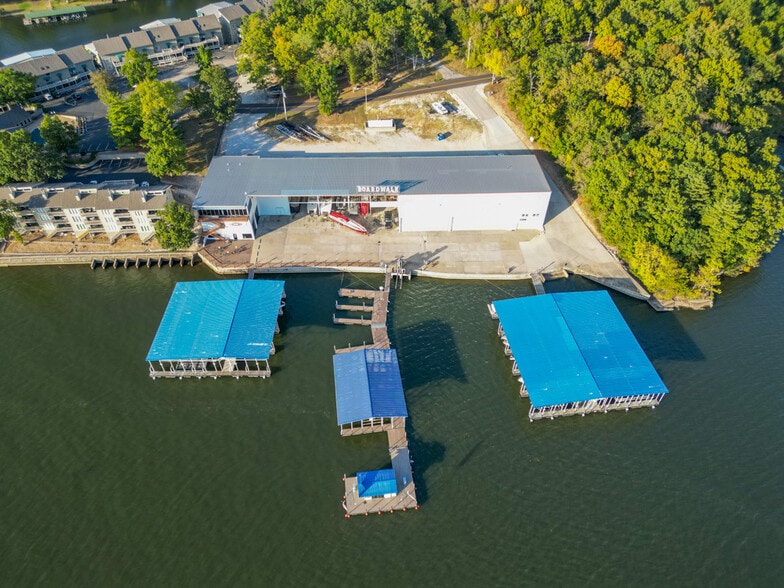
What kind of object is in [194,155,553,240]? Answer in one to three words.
building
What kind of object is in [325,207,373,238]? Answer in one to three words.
boat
